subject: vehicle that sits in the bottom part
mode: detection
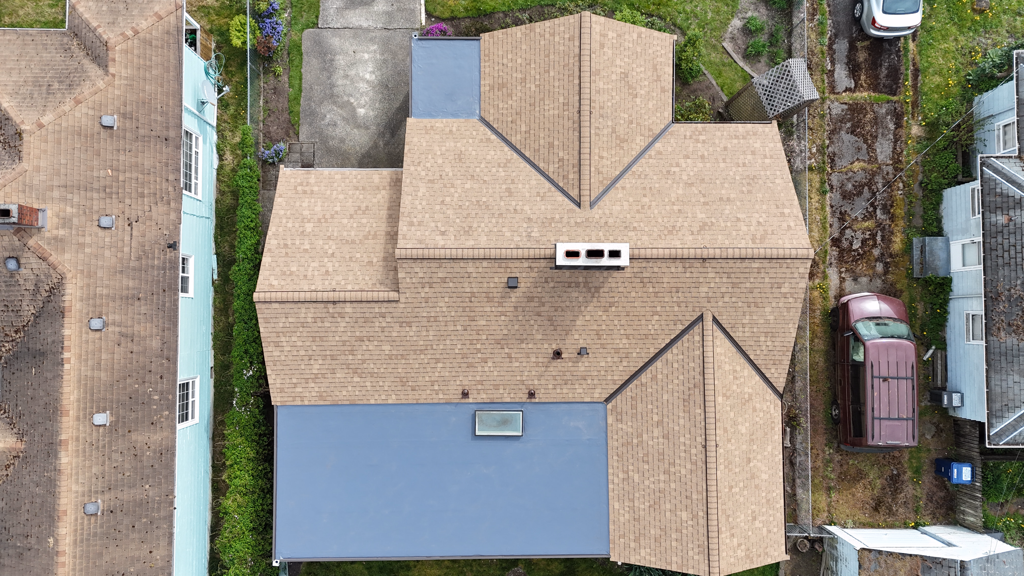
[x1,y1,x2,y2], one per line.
[830,292,920,454]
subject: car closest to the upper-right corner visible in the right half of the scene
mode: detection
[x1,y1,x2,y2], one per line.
[853,0,927,40]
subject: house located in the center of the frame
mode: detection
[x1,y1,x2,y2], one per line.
[250,9,817,576]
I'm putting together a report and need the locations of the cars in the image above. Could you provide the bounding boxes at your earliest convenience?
[853,0,927,40]
[830,292,920,454]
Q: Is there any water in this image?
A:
No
